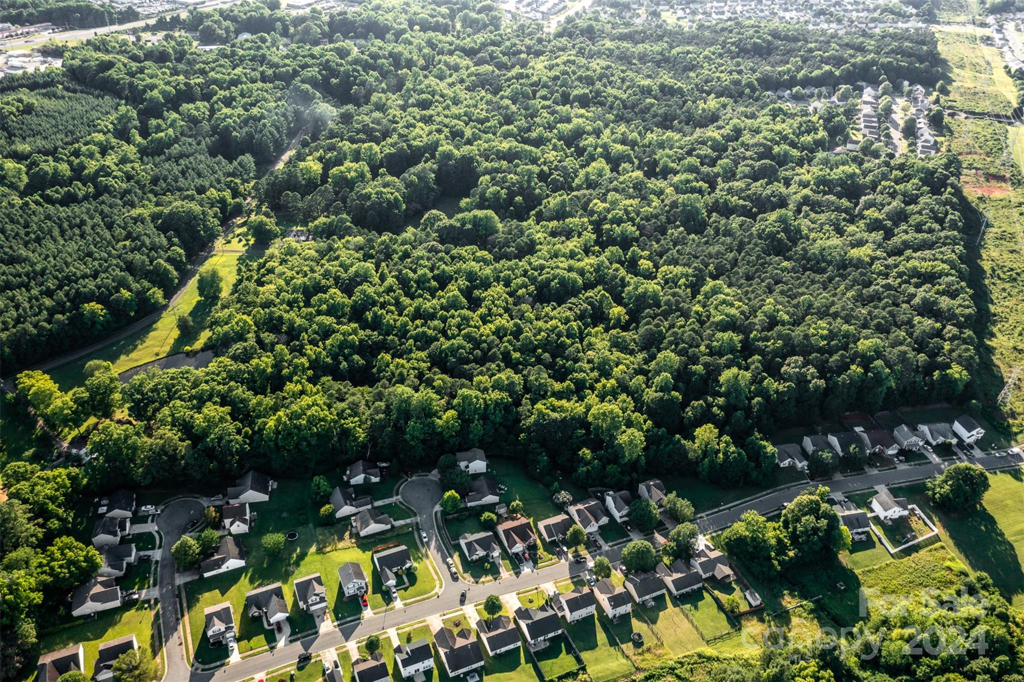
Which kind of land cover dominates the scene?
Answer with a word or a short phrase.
trees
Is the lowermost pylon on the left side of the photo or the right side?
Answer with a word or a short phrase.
right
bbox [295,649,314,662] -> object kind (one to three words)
vehicle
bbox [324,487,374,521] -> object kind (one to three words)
house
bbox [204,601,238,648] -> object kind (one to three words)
house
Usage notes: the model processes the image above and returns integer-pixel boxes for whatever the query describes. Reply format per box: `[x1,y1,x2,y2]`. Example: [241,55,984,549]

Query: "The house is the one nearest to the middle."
[456,448,488,474]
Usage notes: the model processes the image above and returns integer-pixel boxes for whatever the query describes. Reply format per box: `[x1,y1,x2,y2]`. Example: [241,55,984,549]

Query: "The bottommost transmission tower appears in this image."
[995,365,1024,407]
